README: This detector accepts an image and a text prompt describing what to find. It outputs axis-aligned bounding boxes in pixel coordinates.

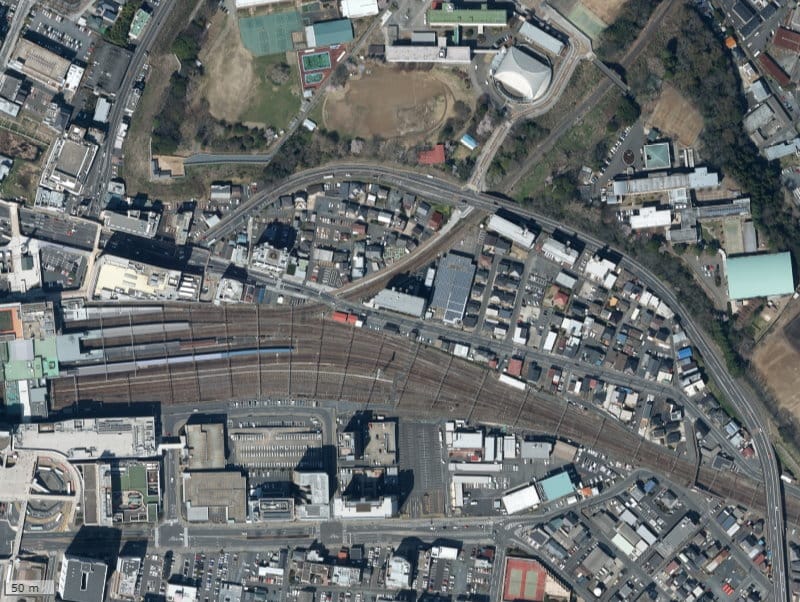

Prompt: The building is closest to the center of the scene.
[373,287,427,317]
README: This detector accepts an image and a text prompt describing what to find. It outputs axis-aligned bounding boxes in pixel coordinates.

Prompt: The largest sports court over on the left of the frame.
[240,12,303,56]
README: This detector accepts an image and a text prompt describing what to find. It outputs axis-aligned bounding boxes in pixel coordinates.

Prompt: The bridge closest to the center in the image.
[455,186,505,214]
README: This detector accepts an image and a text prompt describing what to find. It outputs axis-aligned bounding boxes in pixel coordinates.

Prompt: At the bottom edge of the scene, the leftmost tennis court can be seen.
[503,557,546,602]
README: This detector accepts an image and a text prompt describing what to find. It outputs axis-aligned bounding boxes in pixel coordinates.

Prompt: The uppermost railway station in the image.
[4,333,59,380]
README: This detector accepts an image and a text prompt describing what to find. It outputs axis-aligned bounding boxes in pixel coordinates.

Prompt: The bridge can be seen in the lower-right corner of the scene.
[733,396,787,602]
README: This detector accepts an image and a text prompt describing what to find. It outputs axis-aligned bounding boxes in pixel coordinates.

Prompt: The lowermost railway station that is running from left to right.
[15,414,155,458]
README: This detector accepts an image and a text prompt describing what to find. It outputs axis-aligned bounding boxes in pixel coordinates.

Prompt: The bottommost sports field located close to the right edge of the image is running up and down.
[757,312,800,423]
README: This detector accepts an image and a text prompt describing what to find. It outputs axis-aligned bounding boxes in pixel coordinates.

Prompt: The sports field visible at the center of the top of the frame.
[320,74,459,143]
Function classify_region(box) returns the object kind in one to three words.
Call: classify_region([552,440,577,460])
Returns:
shed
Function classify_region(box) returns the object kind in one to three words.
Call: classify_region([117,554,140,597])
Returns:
building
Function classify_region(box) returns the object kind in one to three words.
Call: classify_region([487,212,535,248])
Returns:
building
